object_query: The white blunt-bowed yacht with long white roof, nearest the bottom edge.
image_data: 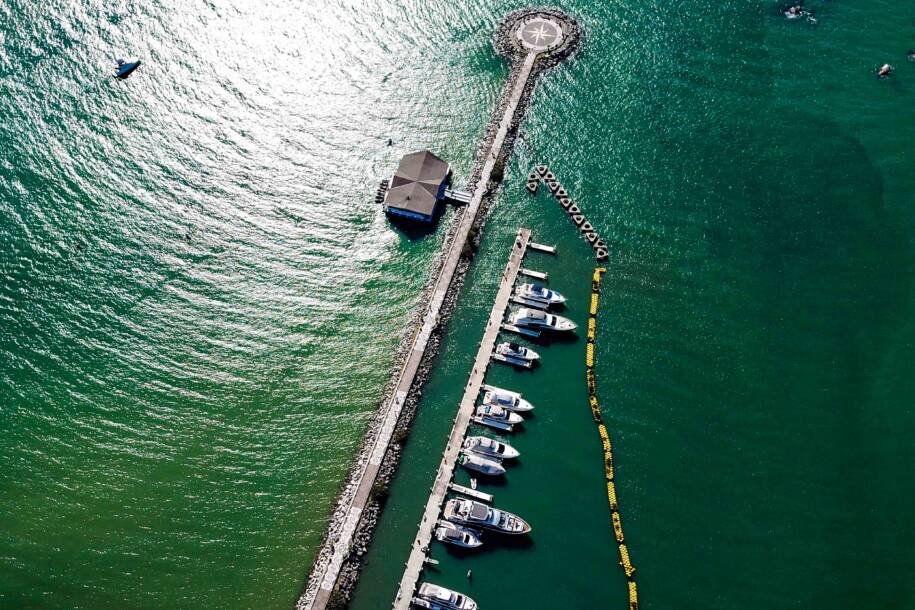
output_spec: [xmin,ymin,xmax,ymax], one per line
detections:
[415,576,478,610]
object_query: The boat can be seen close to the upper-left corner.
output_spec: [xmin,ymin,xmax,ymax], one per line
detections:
[110,60,139,76]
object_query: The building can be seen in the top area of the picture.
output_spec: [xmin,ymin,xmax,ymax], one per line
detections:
[386,151,454,226]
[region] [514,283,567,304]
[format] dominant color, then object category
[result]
white boat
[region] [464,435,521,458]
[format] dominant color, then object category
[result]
white boat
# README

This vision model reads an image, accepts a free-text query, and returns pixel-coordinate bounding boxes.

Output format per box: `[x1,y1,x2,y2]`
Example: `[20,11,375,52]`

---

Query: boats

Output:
[464,435,521,458]
[415,576,478,610]
[514,283,567,304]
[469,405,525,426]
[432,526,483,547]
[110,60,139,76]
[506,308,578,333]
[478,391,535,412]
[458,454,505,473]
[494,342,541,361]
[436,500,532,533]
